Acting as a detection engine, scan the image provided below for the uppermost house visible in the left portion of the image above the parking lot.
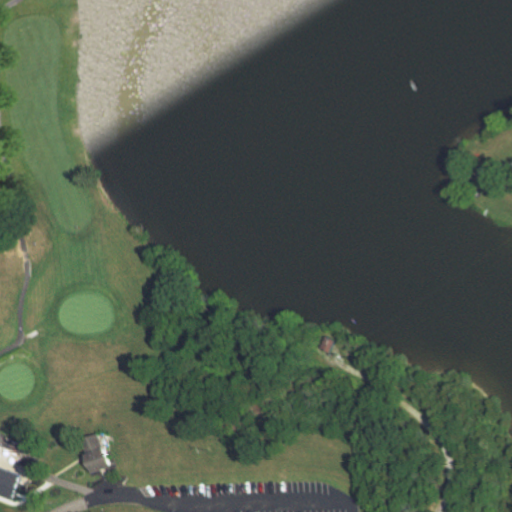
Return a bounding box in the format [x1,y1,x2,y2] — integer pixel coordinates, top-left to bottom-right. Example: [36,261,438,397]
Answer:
[82,435,111,474]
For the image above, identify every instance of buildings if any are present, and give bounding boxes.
[82,435,111,474]
[0,470,24,500]
[320,337,334,354]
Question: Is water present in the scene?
Yes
